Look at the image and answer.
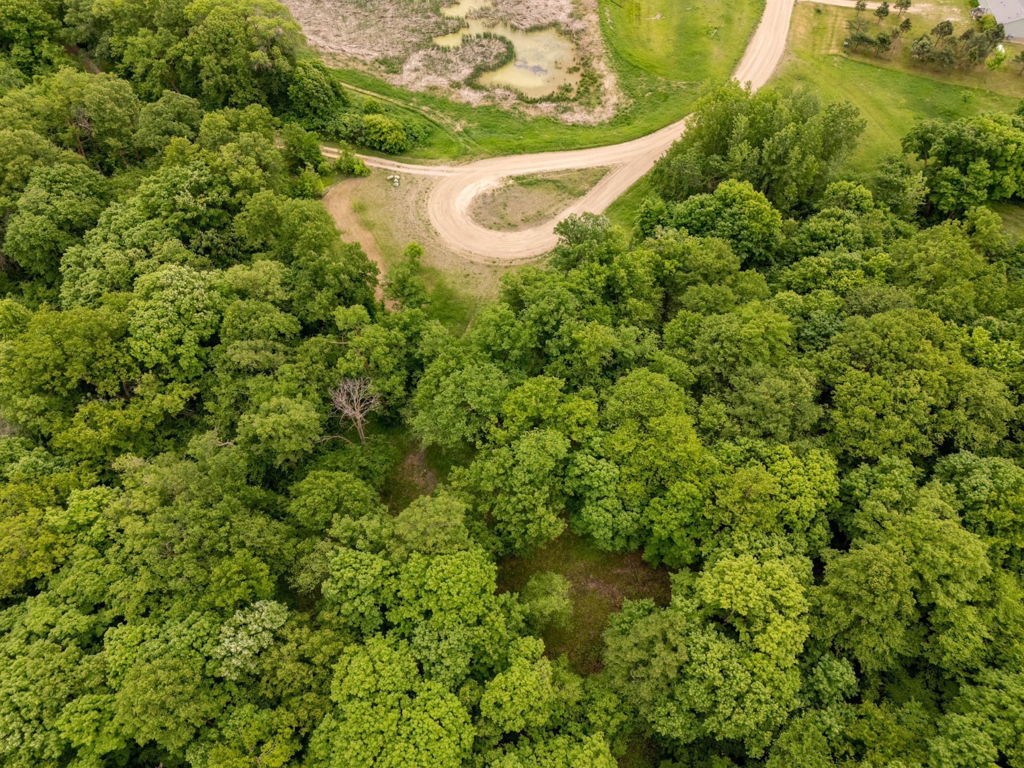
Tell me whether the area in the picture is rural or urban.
rural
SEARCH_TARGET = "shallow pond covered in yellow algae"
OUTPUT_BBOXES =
[433,0,585,99]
